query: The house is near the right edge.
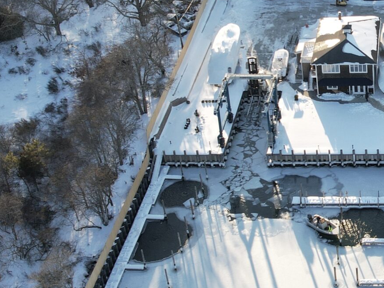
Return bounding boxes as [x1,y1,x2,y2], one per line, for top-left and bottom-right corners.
[292,6,378,100]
